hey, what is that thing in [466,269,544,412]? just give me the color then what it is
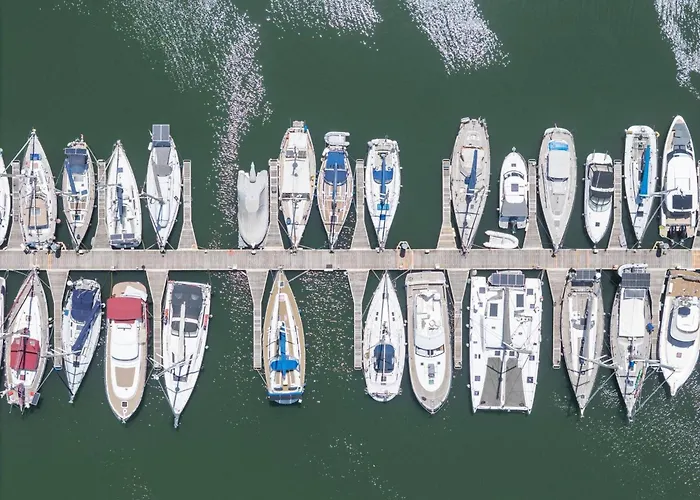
white boat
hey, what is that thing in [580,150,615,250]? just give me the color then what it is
white boat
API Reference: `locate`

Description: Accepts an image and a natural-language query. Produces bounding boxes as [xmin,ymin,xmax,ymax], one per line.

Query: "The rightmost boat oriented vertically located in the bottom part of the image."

[653,269,700,400]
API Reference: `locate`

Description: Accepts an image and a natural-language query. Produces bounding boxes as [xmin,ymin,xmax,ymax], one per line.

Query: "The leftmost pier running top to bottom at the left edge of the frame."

[6,159,25,249]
